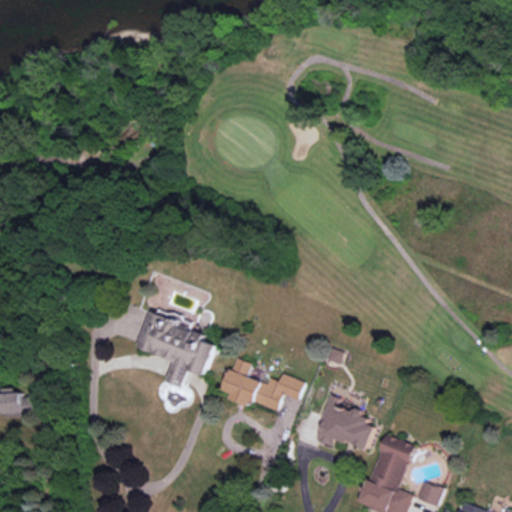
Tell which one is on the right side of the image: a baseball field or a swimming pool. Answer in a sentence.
You can see a swimming pool on the right side of the image.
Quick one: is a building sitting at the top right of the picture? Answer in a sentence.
No, no building is visible at the top right of the picture.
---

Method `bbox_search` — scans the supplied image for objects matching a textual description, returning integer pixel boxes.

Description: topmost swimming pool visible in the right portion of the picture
[410,462,442,484]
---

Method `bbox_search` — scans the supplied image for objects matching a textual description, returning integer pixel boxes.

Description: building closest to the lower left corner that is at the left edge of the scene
[0,388,35,416]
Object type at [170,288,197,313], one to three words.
swimming pool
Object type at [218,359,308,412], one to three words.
house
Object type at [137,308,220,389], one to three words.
house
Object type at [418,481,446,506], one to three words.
building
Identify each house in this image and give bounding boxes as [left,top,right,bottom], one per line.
[318,395,379,454]
[137,308,220,389]
[454,503,489,512]
[218,359,308,412]
[0,388,35,416]
[358,433,418,512]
